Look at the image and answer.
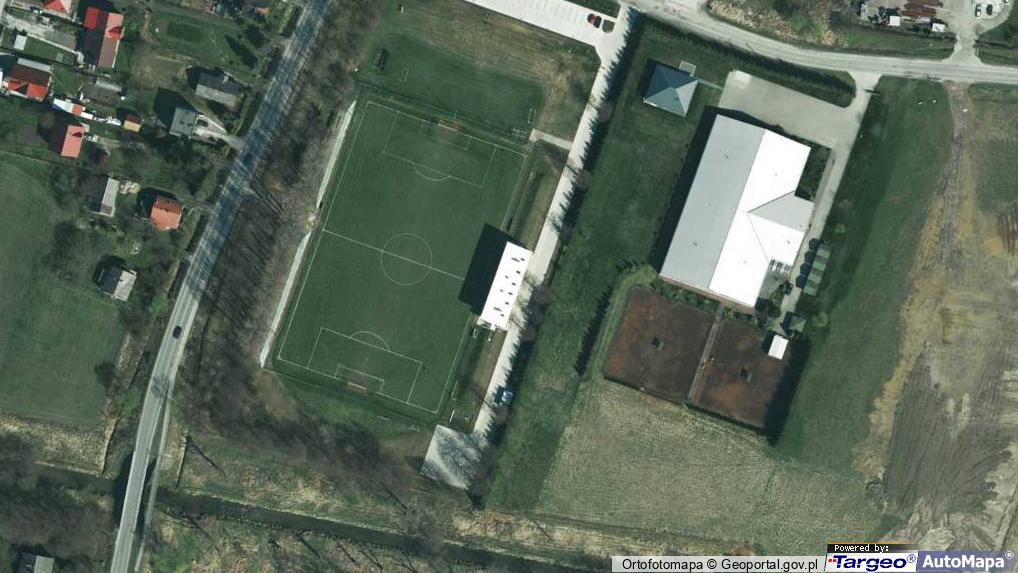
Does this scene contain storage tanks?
No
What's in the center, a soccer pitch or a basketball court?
soccer pitch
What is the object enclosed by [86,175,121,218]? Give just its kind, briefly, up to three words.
house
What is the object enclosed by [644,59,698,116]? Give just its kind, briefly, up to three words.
building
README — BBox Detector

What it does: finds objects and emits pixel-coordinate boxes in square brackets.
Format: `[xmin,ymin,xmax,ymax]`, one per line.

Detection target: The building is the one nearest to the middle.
[478,242,532,346]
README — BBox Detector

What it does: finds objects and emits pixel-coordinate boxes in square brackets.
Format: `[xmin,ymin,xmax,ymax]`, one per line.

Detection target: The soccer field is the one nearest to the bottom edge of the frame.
[269,93,536,422]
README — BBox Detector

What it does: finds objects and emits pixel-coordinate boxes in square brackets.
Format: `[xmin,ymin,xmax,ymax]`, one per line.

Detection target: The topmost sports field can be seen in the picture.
[383,37,544,128]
